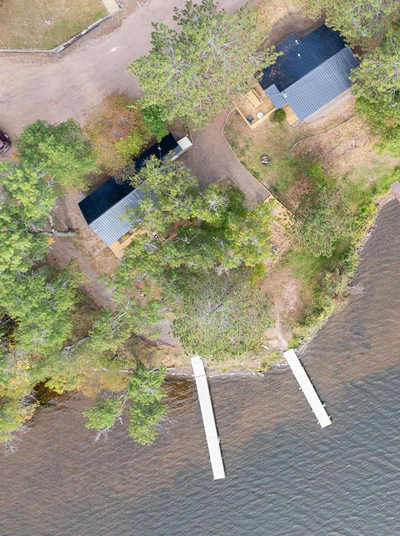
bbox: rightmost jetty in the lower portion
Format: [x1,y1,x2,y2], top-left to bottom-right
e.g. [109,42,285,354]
[284,349,331,431]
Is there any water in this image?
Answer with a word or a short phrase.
Yes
